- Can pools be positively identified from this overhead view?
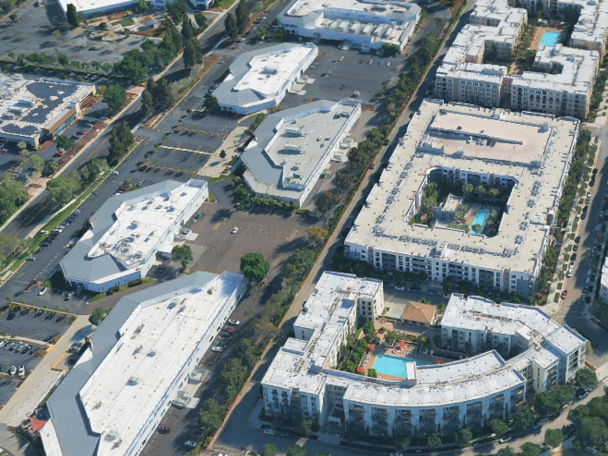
Yes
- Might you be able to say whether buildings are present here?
Yes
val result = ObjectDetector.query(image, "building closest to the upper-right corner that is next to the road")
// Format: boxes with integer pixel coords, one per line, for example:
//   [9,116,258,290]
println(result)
[436,0,608,119]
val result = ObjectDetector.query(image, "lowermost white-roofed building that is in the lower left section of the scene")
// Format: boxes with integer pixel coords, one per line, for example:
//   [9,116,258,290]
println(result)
[40,270,248,456]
